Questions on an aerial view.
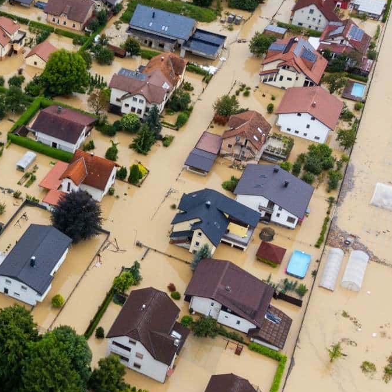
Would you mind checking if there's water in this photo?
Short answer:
Yes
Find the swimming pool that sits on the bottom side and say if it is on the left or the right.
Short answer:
right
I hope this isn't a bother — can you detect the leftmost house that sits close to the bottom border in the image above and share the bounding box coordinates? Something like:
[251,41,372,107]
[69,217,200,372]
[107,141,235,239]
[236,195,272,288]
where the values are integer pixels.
[103,288,207,383]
